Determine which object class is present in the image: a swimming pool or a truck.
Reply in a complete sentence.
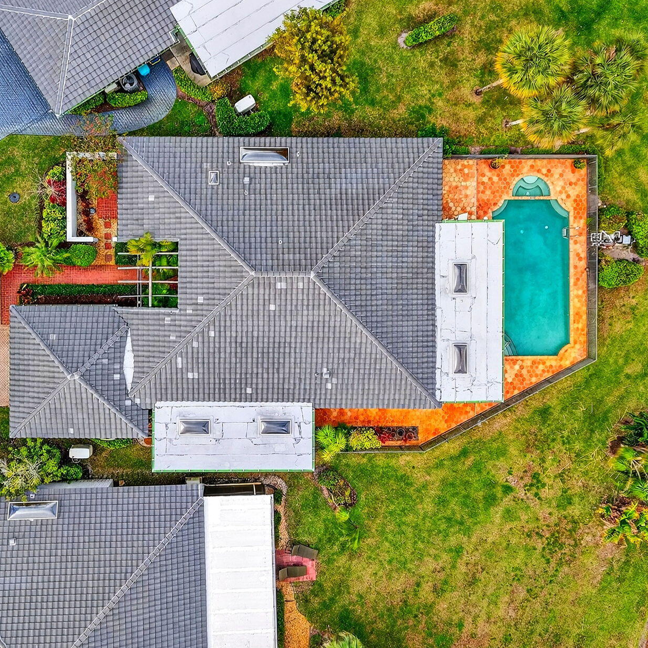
The one in the frame is a swimming pool.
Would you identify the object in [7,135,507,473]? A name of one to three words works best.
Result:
house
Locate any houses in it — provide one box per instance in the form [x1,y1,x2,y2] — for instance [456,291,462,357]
[0,474,280,648]
[0,0,342,118]
[7,135,507,473]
